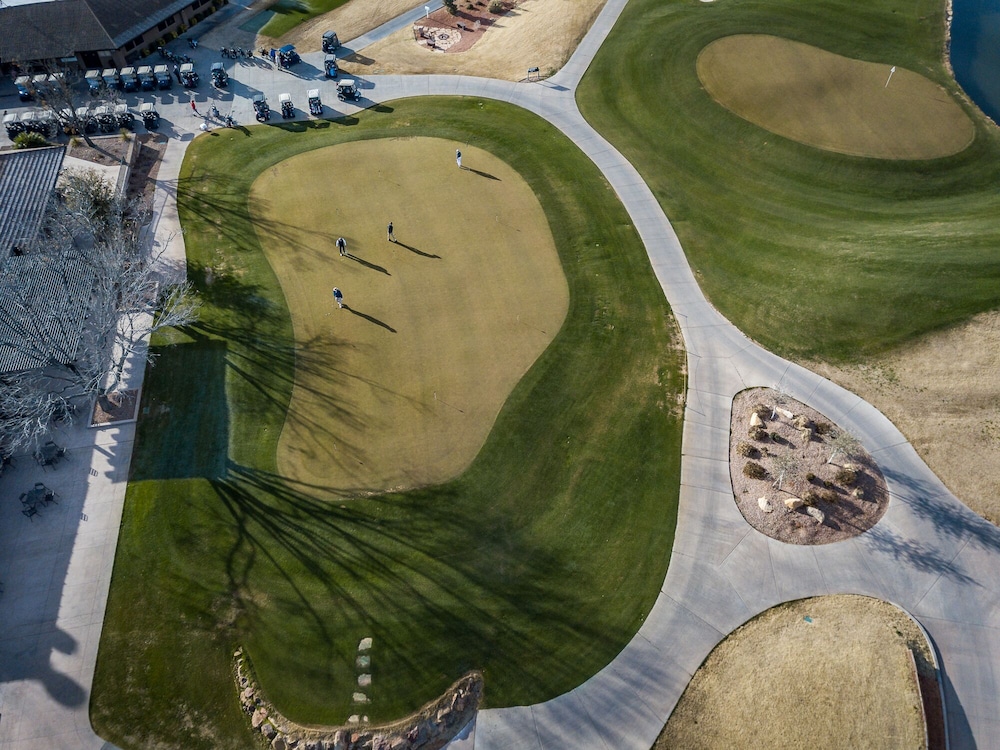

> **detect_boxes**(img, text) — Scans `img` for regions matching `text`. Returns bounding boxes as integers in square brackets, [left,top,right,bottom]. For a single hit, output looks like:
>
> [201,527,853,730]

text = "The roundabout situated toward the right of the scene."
[729,386,890,545]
